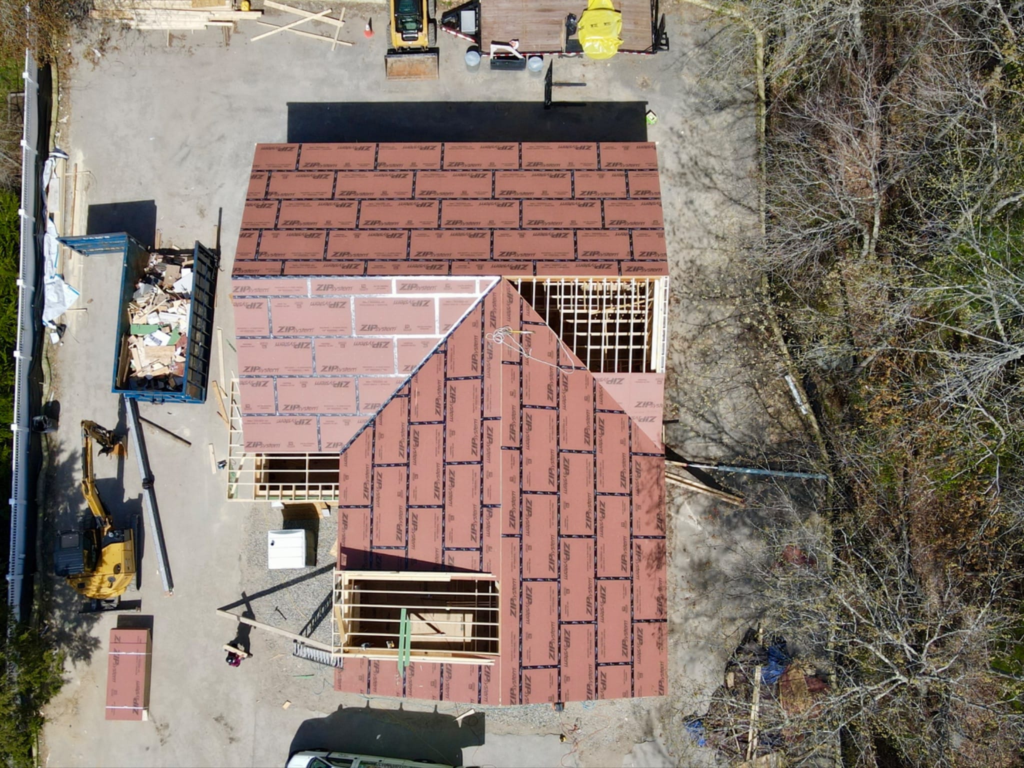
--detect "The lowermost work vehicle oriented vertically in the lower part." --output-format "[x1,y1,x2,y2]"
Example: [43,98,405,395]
[53,420,144,612]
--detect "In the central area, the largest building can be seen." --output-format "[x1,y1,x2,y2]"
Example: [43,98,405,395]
[227,142,669,705]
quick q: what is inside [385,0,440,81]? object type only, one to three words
work vehicle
